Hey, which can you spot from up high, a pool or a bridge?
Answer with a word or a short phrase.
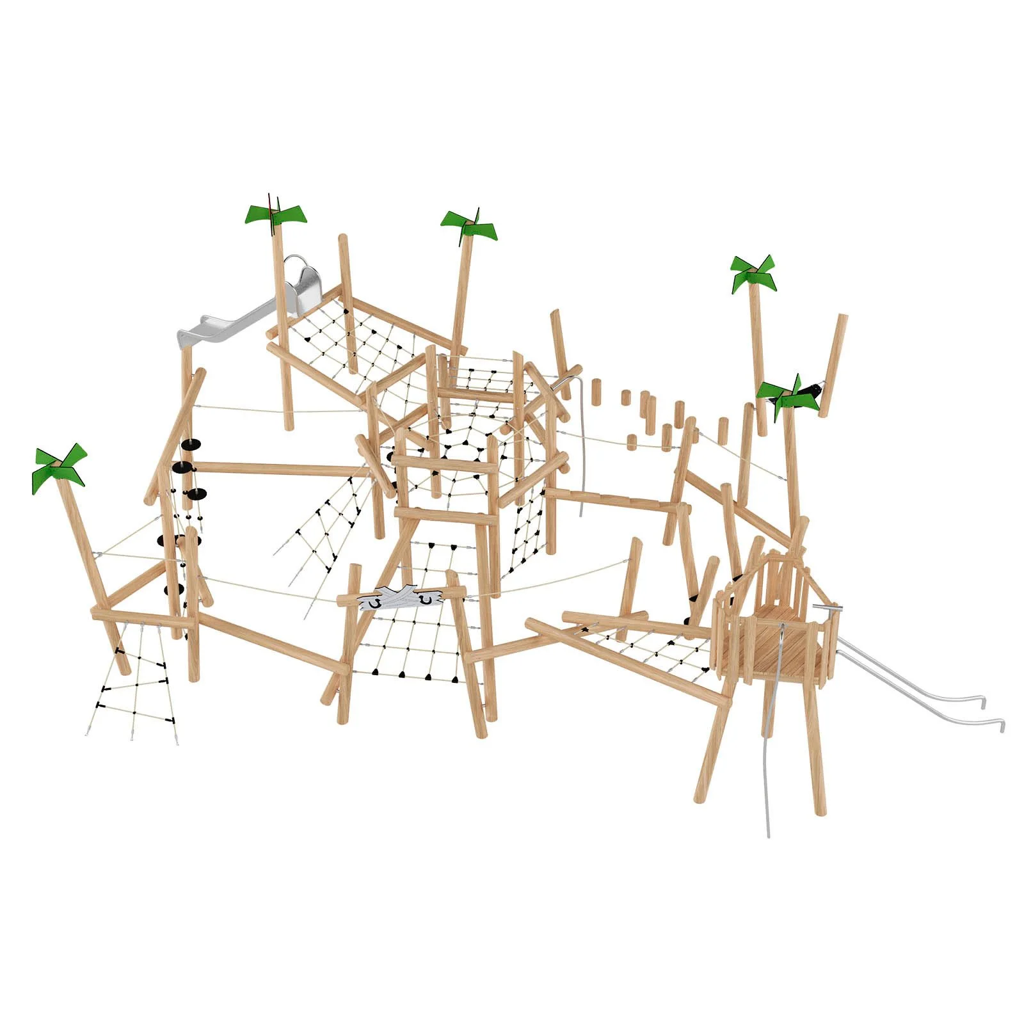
bridge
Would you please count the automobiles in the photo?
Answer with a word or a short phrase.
0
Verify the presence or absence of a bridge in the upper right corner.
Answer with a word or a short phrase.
No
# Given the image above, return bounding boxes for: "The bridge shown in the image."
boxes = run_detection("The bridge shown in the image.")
[527,611,732,707]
